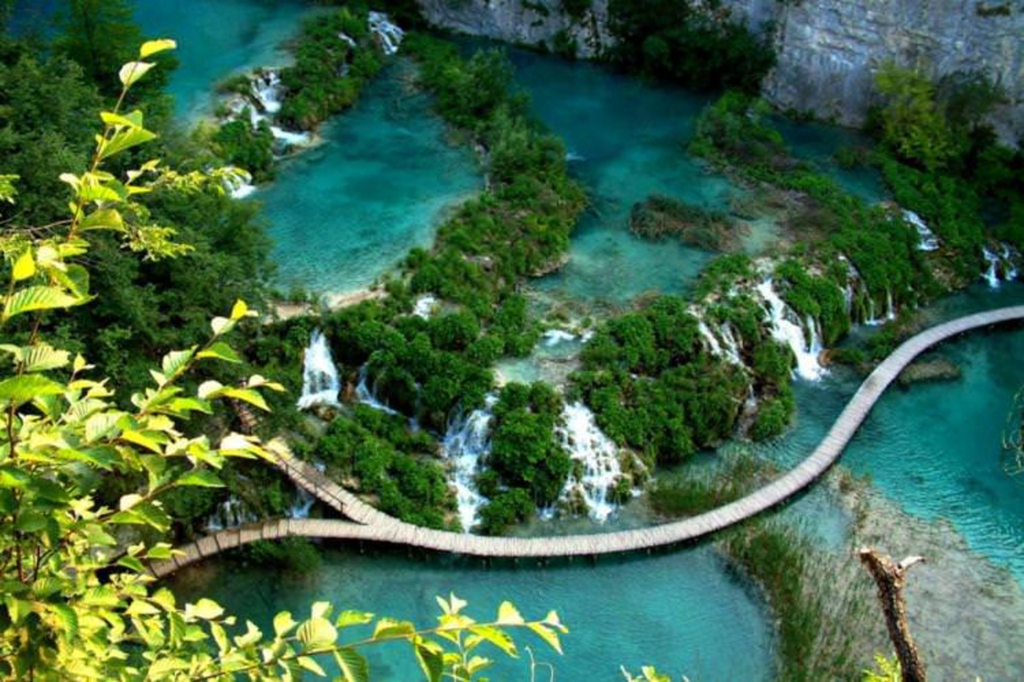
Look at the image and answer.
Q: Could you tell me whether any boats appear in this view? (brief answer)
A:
No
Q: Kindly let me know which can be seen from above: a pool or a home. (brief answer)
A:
pool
